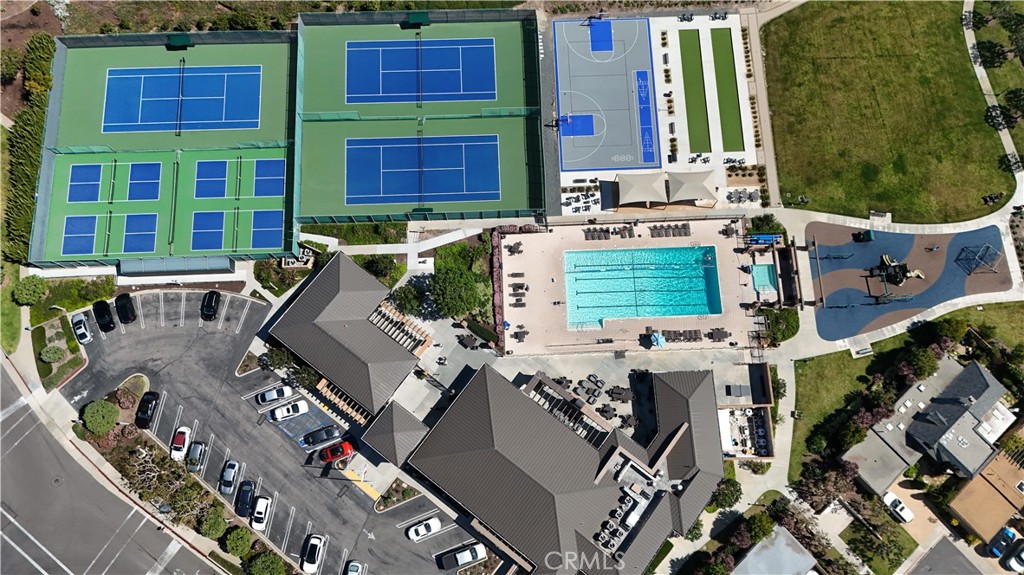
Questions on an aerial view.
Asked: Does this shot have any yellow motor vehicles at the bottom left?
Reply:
No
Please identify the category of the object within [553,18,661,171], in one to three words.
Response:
basketball court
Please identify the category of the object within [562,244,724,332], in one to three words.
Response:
swimming pool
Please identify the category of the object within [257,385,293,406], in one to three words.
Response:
car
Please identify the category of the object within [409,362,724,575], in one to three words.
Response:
building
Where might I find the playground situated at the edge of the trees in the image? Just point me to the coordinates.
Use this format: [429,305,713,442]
[806,223,1014,341]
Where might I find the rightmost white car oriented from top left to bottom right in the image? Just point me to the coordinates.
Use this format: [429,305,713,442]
[883,492,917,525]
